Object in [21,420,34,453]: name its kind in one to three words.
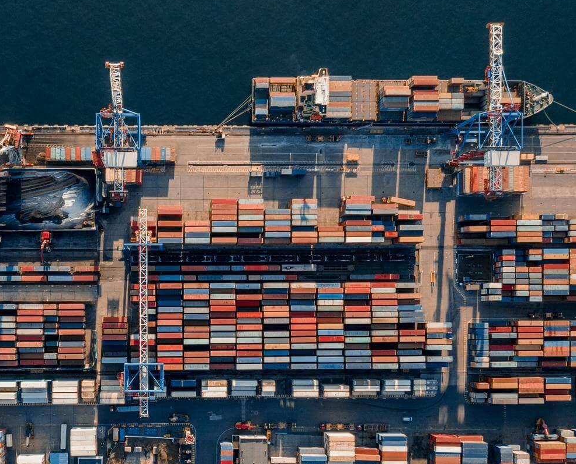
vehicle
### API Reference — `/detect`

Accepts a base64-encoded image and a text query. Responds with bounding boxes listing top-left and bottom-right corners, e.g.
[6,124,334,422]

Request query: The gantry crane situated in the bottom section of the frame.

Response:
[119,209,171,417]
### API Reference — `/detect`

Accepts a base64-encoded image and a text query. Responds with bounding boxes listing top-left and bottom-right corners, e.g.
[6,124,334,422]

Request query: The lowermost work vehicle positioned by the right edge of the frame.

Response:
[534,417,548,433]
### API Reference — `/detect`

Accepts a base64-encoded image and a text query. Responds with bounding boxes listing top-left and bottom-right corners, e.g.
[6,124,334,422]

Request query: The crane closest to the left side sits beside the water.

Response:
[0,119,42,169]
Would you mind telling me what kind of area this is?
port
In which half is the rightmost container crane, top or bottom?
top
